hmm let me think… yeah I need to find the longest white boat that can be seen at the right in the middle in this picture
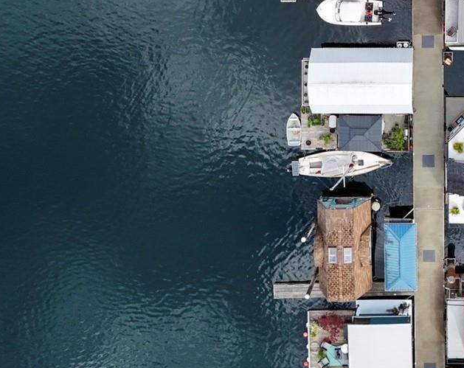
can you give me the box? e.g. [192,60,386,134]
[287,151,397,196]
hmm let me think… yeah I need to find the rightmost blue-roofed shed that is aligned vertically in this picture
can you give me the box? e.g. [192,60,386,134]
[383,210,418,293]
